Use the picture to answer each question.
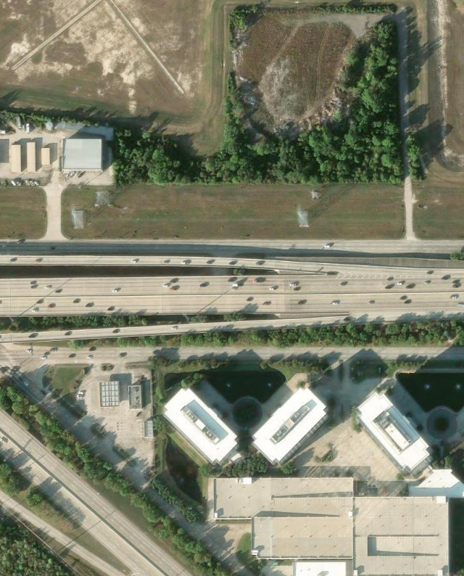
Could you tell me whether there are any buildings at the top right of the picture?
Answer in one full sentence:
No, I can find no building at the top right of the picture.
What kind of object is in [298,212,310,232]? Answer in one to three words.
pylon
